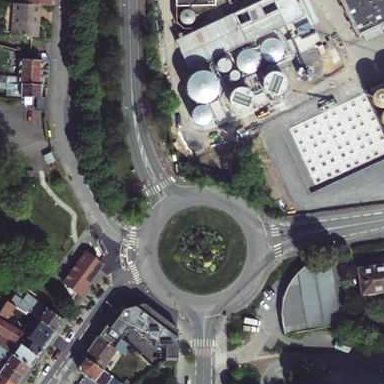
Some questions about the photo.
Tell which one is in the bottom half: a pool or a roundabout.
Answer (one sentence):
There is a roundabout in the bottom half.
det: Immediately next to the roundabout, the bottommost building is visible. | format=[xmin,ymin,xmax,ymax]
[110,304,178,364]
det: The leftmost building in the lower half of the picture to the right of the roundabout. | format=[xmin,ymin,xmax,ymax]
[281,265,339,332]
